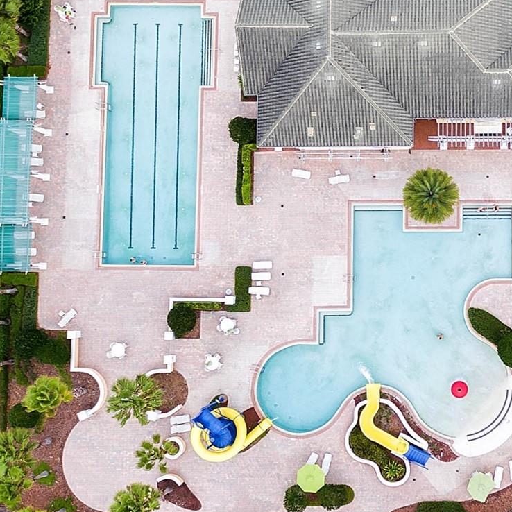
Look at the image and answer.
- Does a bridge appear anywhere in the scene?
No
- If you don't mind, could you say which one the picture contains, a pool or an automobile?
pool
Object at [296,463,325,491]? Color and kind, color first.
green umbrella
